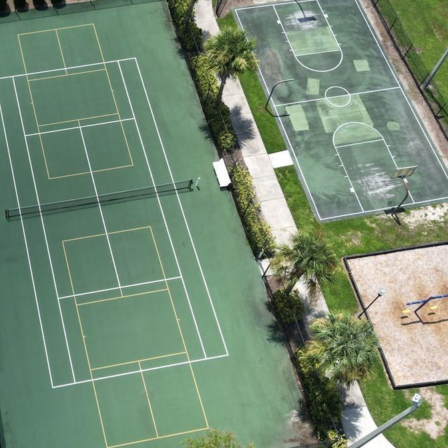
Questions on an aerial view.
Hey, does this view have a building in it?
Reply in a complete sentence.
No, the frame has no building in it.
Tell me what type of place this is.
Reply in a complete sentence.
It's a sports ground.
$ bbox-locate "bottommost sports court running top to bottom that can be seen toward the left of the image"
[63,226,208,448]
